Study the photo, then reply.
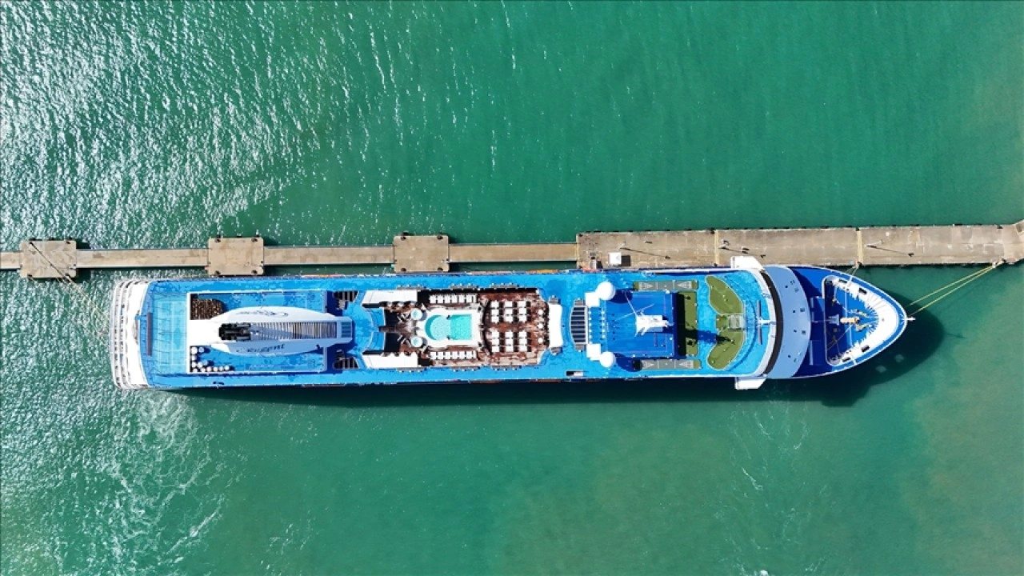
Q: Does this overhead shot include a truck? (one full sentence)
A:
No, the scene contains no truck.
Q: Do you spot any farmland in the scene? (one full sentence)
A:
No, no farmland is visible.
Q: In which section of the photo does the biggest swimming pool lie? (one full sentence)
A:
The biggest swimming pool is in the center part of the image.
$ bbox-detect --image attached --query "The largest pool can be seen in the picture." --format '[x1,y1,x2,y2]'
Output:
[417,307,483,349]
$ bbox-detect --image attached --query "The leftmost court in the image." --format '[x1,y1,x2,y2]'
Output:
[142,293,186,374]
